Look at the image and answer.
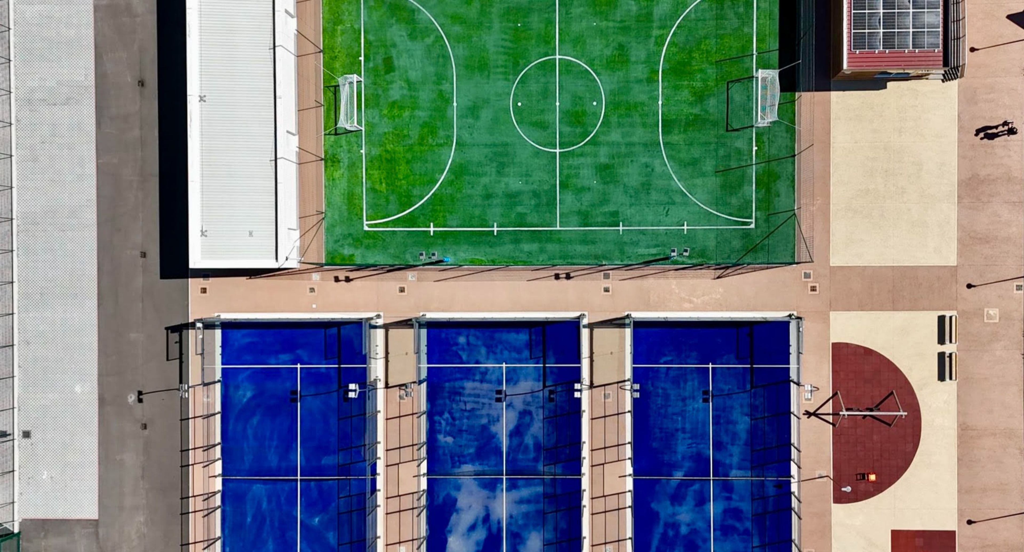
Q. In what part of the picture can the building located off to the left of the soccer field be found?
top left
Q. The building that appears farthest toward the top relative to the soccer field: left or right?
right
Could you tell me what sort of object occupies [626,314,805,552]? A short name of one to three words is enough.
sports court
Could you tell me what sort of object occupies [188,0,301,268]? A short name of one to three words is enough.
building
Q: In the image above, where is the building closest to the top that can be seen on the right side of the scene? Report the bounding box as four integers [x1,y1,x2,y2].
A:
[833,0,962,84]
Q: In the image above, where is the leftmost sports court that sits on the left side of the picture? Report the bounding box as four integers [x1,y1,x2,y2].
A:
[196,314,383,552]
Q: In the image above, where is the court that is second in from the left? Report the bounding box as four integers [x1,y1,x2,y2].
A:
[415,314,588,552]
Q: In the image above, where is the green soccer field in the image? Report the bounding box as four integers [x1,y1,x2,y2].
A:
[321,0,797,266]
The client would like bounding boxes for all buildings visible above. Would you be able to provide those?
[833,0,962,84]
[188,0,301,268]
